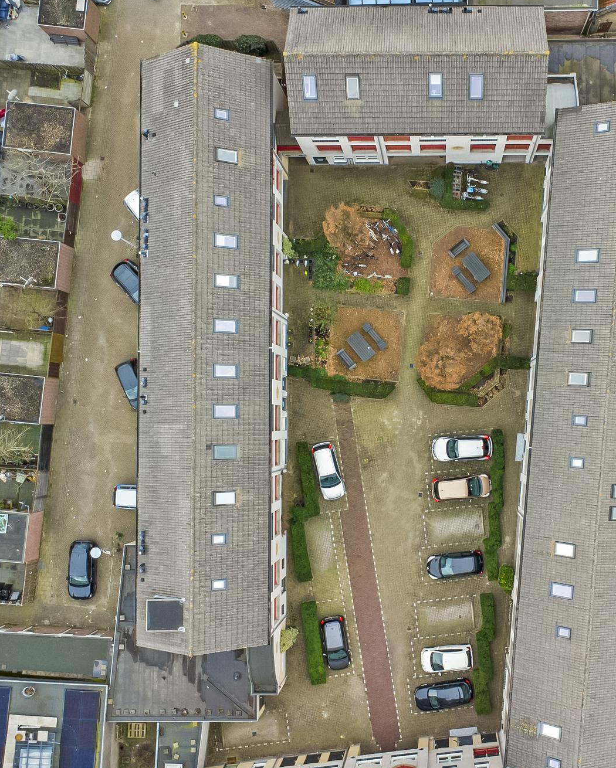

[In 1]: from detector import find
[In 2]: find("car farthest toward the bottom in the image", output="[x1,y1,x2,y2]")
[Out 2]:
[414,678,475,712]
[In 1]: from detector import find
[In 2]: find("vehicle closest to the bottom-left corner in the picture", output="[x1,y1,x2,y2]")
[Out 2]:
[66,539,99,599]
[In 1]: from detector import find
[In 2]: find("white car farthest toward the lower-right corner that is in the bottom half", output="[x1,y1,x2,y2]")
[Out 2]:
[420,645,475,674]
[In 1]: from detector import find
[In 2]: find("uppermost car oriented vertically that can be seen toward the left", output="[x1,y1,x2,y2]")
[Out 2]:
[124,188,137,218]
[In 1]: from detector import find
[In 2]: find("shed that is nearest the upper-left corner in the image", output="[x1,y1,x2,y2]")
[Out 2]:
[36,0,101,43]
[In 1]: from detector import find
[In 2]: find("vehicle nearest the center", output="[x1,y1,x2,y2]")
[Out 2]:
[313,441,344,502]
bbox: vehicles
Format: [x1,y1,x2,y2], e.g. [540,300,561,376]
[124,188,137,218]
[110,484,135,508]
[313,441,344,502]
[425,550,485,580]
[114,257,136,305]
[420,645,475,674]
[432,474,492,502]
[320,616,351,668]
[115,358,136,416]
[432,434,493,464]
[414,678,475,712]
[66,539,99,599]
